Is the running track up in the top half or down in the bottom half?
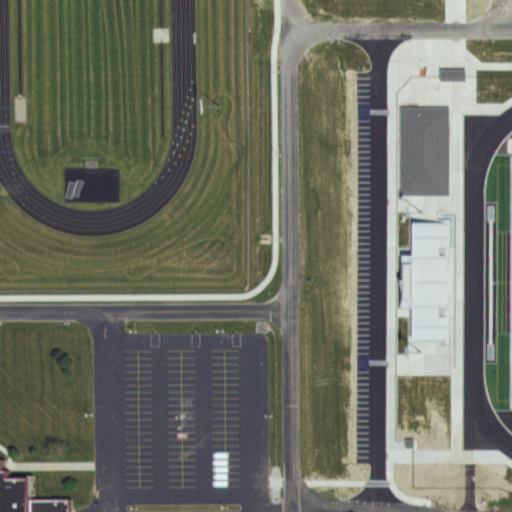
top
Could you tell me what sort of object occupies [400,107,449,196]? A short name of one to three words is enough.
building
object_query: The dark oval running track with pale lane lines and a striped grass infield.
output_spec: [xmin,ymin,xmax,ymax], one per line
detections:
[0,0,196,234]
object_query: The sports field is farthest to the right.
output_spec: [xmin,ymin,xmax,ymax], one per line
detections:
[486,134,512,411]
